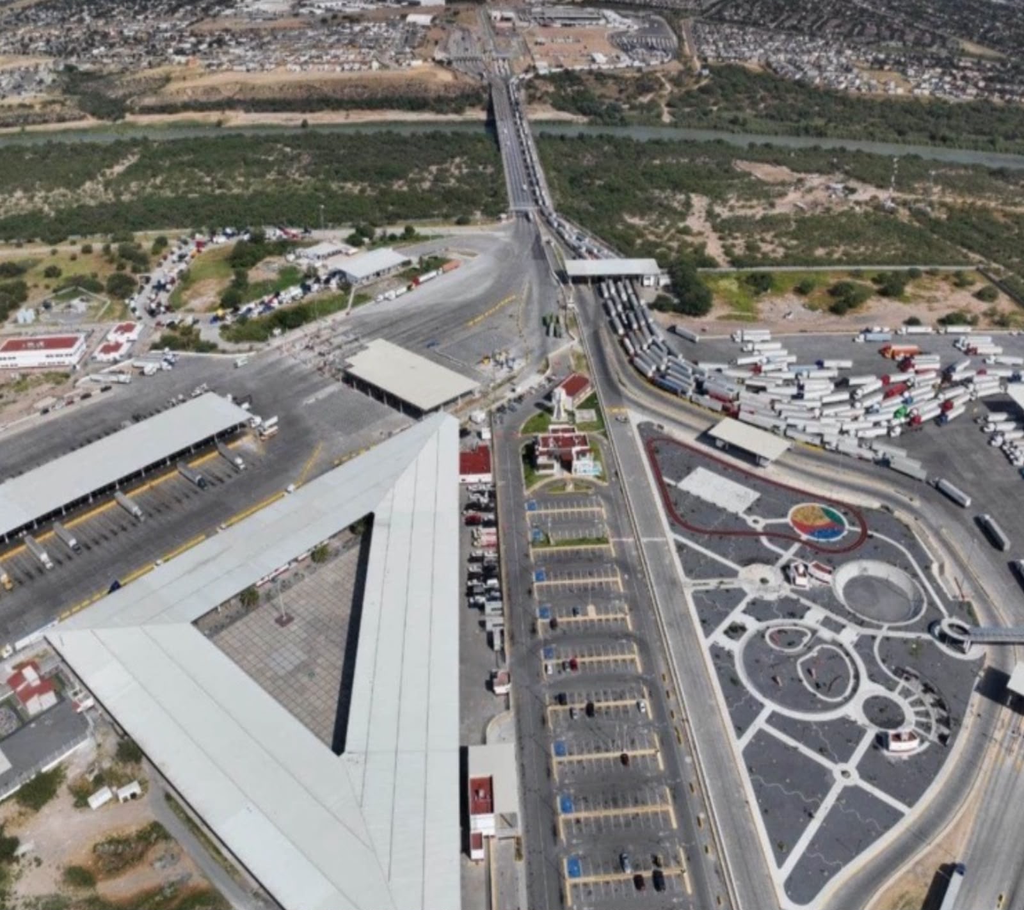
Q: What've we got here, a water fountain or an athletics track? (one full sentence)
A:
I can see an athletics track in this picture.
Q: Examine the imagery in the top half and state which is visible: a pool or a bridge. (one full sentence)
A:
Looking in the top half, you will find a bridge.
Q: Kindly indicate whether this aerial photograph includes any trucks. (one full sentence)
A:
Yes, there's a truck here.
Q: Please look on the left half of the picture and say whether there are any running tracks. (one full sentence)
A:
No, there is no running track on the left half of the picture.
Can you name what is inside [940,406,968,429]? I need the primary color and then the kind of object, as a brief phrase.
white truck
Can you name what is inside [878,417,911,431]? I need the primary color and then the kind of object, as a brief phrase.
white vehicle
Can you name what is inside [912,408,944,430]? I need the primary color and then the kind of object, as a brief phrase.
white truck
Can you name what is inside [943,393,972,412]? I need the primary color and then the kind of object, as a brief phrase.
white vehicle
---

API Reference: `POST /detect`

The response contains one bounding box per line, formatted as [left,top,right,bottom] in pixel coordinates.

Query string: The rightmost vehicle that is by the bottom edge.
[937,854,966,910]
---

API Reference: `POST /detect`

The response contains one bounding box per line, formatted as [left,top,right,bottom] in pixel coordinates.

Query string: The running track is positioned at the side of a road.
[648,436,870,553]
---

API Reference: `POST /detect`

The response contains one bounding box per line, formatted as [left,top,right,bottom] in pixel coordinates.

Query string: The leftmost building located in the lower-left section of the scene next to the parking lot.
[48,413,460,910]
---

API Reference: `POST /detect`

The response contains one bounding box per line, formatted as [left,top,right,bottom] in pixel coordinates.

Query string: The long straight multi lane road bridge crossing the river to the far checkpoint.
[490,82,561,226]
